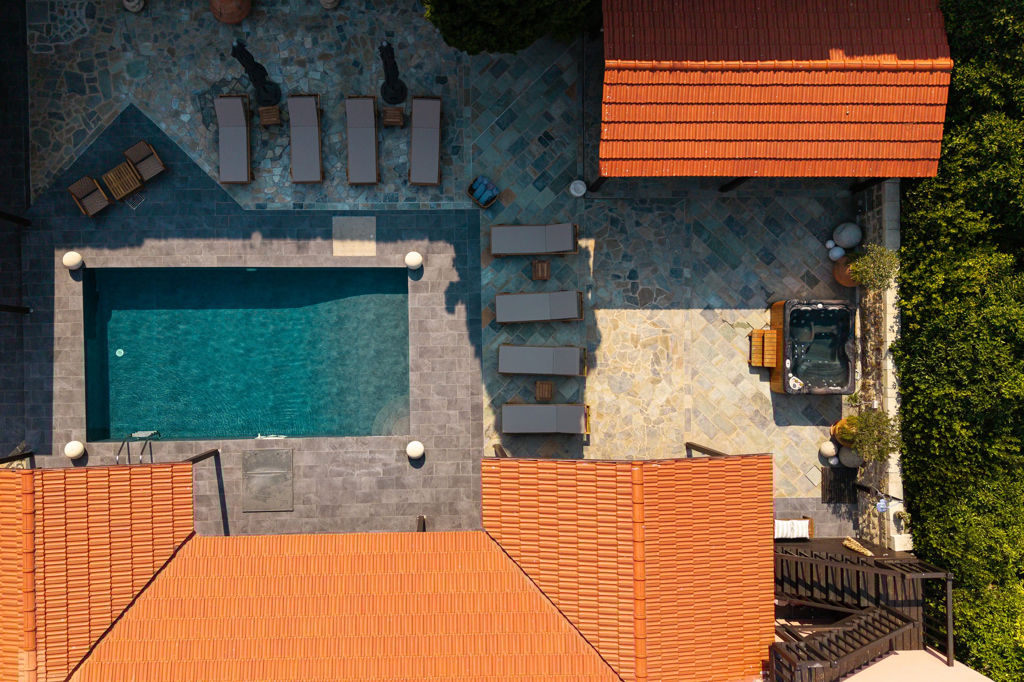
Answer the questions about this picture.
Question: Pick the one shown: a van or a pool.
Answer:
pool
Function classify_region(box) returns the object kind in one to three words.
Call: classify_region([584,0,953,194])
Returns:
building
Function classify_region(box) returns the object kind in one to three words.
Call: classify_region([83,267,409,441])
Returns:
swimming pool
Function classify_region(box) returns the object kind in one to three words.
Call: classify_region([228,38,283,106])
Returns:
umbrella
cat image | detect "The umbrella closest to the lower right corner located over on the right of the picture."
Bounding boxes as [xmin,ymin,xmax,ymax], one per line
[842,534,875,557]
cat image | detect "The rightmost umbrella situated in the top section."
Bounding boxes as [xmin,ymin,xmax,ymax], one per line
[375,37,407,104]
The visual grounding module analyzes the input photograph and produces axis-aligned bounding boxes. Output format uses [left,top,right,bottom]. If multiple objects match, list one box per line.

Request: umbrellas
[842,534,875,557]
[375,37,407,104]
[228,38,283,106]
